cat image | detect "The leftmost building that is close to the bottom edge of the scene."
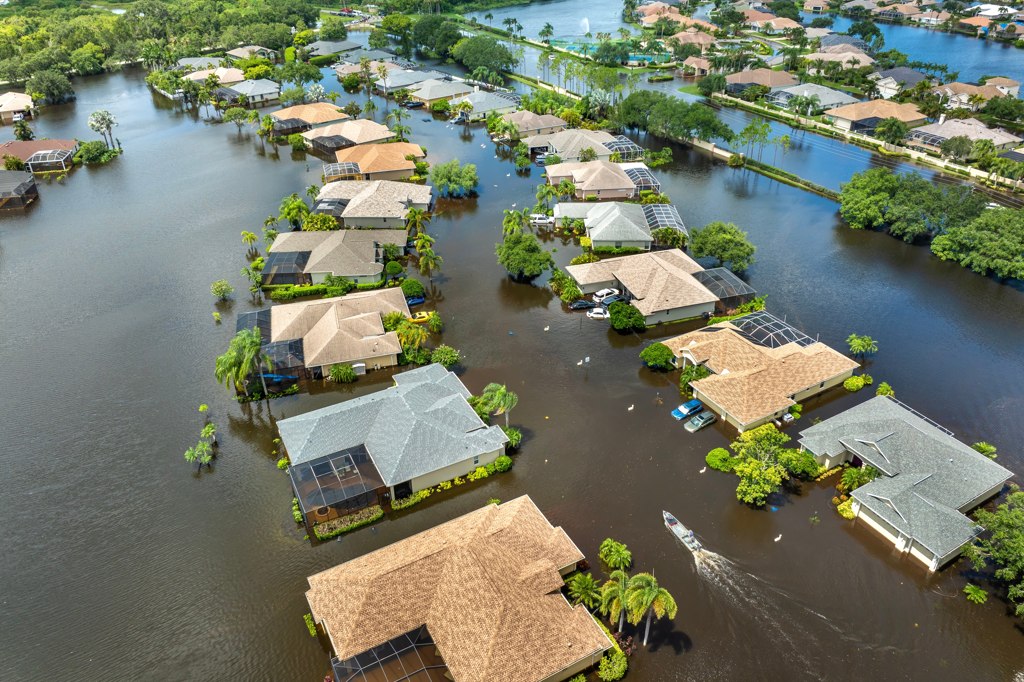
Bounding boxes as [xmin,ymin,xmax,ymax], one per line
[304,494,614,682]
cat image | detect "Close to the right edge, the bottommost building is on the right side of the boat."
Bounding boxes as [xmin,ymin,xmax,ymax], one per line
[796,394,1015,567]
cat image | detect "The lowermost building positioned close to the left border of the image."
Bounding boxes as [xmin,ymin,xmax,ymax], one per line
[0,165,40,207]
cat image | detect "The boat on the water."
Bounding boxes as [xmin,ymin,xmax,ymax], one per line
[663,509,705,556]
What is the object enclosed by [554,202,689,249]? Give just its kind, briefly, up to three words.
house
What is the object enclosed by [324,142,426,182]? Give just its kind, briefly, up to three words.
house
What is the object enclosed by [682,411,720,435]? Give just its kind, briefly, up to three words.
car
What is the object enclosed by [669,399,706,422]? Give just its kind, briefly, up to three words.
car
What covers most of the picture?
water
